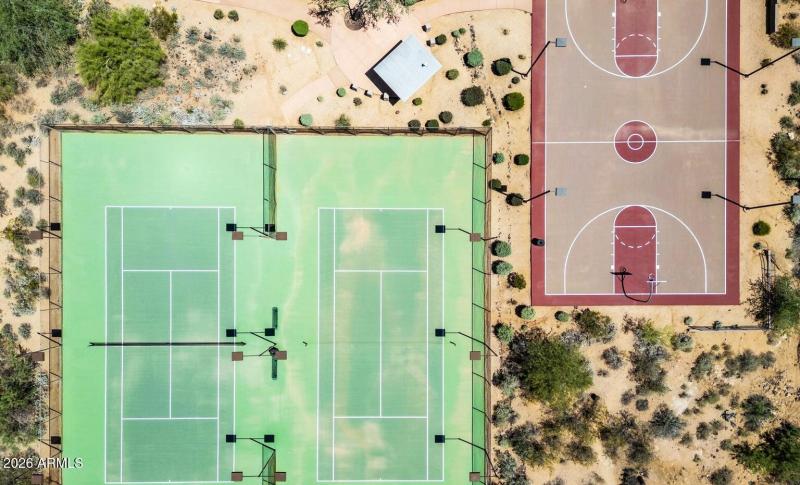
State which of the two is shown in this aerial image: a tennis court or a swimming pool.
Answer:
tennis court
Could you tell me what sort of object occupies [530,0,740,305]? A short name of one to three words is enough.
basketball court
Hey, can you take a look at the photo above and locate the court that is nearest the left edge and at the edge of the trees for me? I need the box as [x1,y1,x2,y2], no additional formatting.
[62,134,276,485]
